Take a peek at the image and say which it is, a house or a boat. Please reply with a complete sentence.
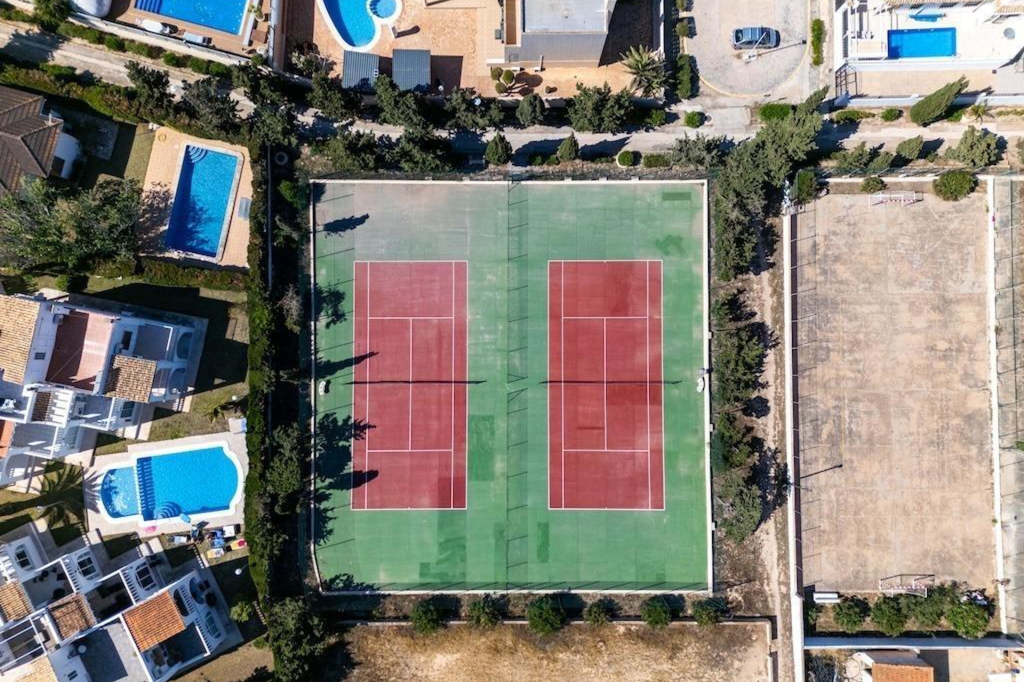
There is a house in the scene.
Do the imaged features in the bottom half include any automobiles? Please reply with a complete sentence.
No, looking in the bottom half, there is no automobile.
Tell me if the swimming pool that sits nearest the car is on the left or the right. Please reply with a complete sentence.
You can find the swimming pool that sits nearest the car on the right side of the picture.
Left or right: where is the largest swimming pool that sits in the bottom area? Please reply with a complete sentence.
It is on the left.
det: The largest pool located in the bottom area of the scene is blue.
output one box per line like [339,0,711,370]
[134,443,242,525]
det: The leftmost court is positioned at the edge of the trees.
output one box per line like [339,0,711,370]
[314,184,508,593]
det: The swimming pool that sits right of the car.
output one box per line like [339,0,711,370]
[885,24,960,61]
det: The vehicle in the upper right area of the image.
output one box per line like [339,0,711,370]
[733,24,778,49]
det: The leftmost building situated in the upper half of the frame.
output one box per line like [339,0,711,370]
[0,88,86,193]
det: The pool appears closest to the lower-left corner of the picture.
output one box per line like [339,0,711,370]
[98,464,142,521]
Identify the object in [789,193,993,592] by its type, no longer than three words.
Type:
sports court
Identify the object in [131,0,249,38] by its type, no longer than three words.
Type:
swimming pool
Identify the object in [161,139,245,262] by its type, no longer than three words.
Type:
swimming pool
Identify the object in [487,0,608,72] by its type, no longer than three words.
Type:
house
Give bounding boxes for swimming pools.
[161,139,245,262]
[98,464,142,521]
[885,24,960,61]
[311,0,379,51]
[134,443,242,525]
[131,0,249,38]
